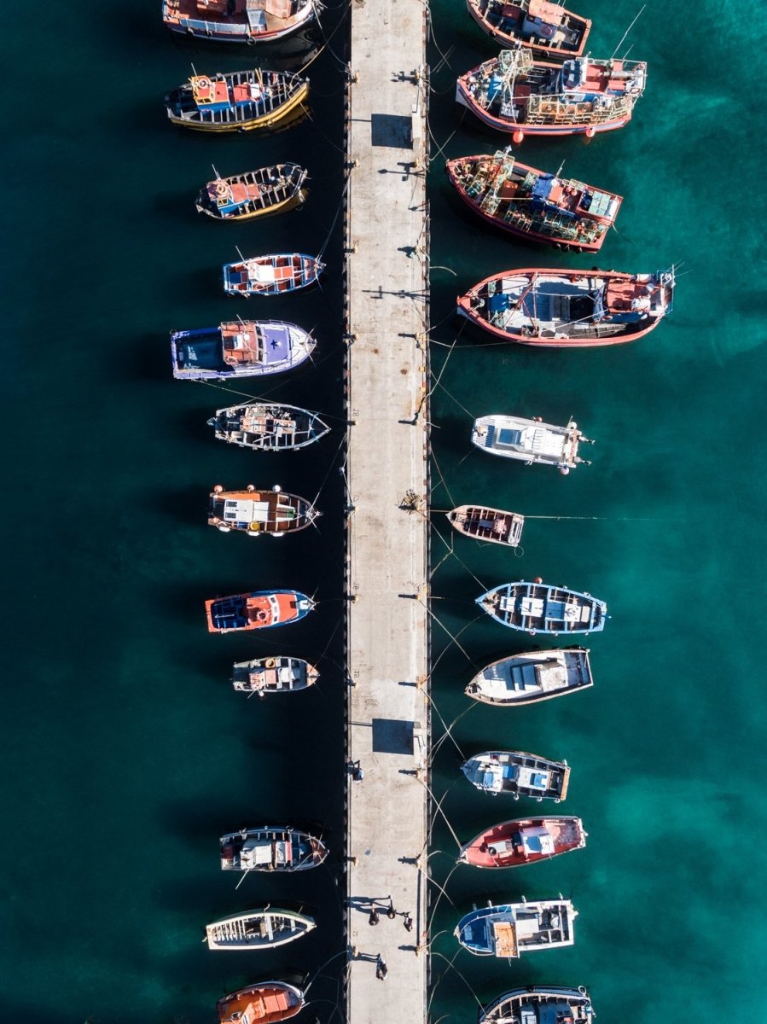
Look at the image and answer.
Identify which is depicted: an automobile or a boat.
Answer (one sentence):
The one in the frame is a boat.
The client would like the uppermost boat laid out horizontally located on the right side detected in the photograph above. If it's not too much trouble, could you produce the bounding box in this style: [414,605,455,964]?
[466,0,592,62]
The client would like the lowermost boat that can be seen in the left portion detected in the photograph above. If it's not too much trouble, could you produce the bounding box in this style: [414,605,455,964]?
[216,969,305,1024]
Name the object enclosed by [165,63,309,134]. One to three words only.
boat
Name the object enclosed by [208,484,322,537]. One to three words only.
boat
